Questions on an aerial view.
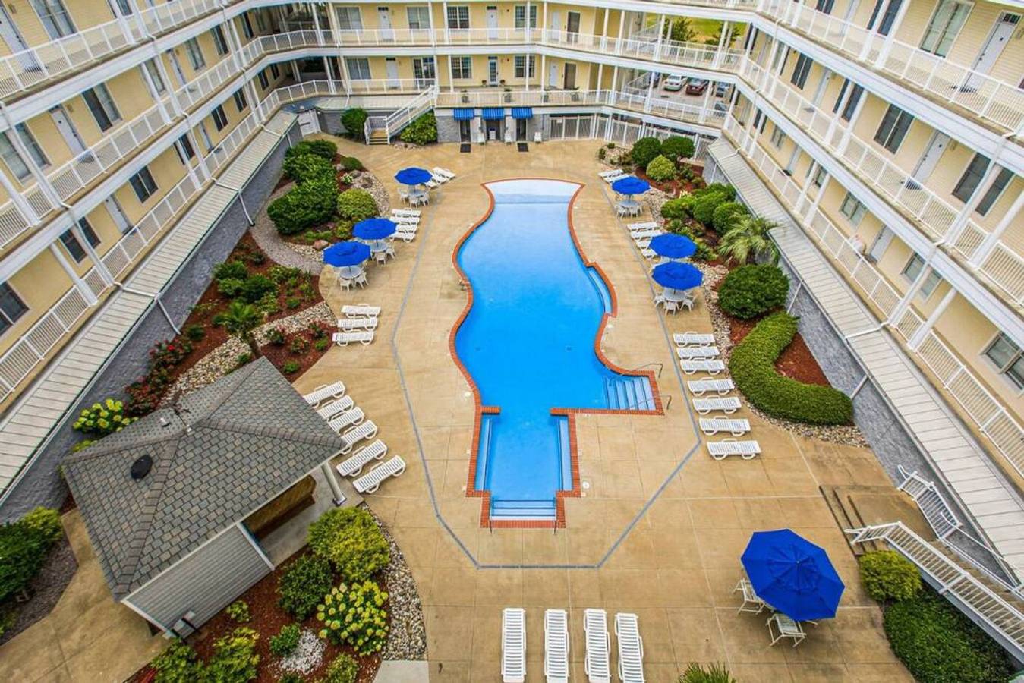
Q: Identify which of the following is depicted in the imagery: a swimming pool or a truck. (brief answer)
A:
swimming pool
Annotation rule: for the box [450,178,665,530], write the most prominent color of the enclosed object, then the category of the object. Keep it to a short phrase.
blue swimming pool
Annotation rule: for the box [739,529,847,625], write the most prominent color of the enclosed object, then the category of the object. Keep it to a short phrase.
blue umbrella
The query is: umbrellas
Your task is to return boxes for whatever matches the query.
[653,262,704,295]
[353,218,398,247]
[650,235,695,261]
[739,529,847,625]
[394,167,432,195]
[321,242,370,274]
[612,177,651,205]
